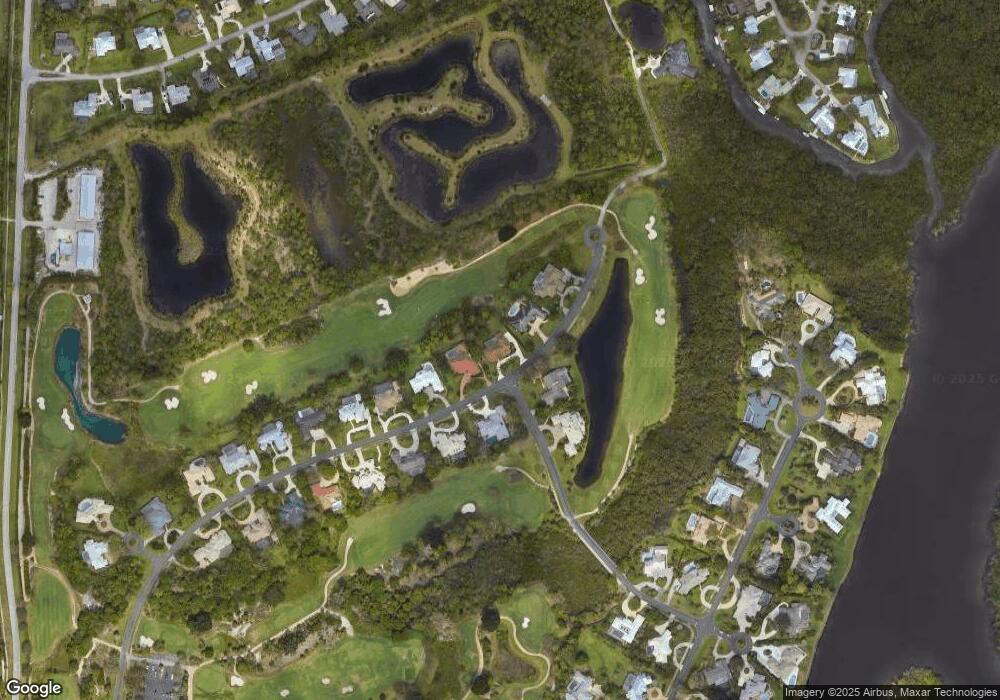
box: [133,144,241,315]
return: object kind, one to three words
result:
pond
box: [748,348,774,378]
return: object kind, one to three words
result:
house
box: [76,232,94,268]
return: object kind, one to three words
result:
building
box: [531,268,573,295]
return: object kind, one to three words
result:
house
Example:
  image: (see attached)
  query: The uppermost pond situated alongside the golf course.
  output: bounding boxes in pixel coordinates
[350,37,562,220]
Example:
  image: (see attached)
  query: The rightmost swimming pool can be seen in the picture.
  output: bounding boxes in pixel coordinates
[863,432,878,448]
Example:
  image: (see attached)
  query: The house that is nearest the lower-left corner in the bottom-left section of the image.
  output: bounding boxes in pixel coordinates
[81,543,107,564]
